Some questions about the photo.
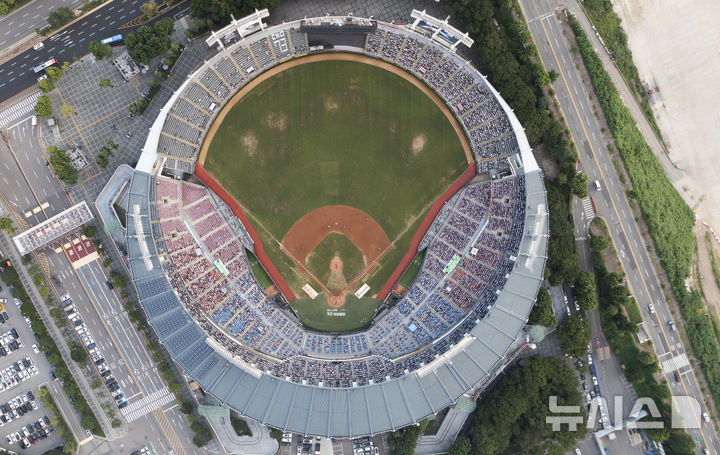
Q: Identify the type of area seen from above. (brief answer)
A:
sports ground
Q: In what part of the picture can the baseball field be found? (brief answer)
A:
center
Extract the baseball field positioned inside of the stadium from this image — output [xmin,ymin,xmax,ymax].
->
[197,52,475,334]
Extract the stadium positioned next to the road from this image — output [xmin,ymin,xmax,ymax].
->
[94,0,567,455]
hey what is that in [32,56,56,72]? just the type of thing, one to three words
vehicle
